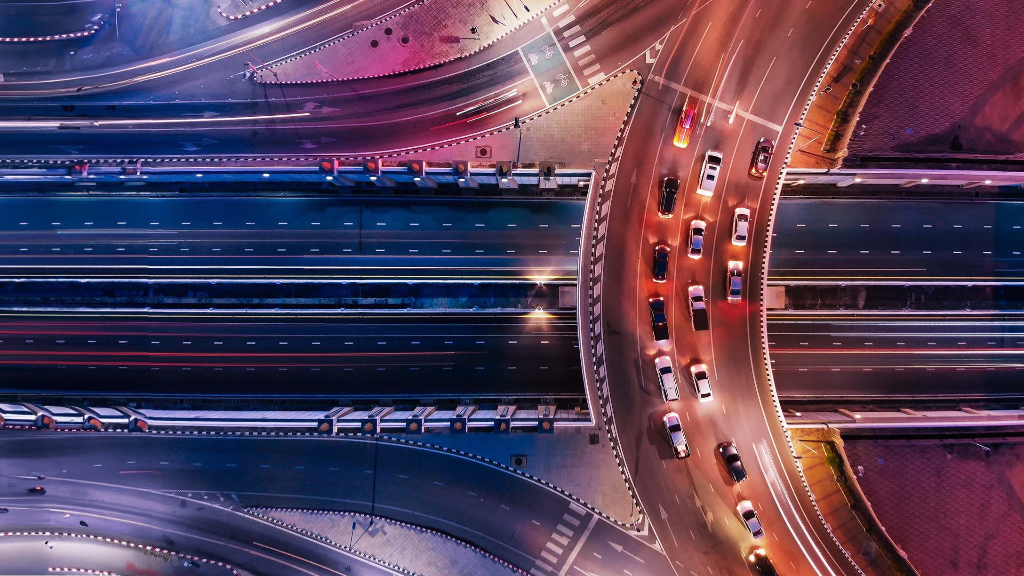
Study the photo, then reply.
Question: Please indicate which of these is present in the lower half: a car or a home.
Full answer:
Looking in the lower half, you will find a car.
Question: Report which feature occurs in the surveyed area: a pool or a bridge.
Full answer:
The image shows a bridge.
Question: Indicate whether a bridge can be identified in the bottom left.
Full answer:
No, there is no bridge in the bottom left.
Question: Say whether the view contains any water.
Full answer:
No, the scene doesn't show any water.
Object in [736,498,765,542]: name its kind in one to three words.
car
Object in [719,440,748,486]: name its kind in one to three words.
car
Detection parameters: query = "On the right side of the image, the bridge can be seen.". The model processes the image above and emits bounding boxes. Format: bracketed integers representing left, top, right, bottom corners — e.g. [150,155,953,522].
[576,169,791,426]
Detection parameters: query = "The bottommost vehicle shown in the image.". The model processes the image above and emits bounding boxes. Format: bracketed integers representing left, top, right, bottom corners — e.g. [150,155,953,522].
[747,545,774,576]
